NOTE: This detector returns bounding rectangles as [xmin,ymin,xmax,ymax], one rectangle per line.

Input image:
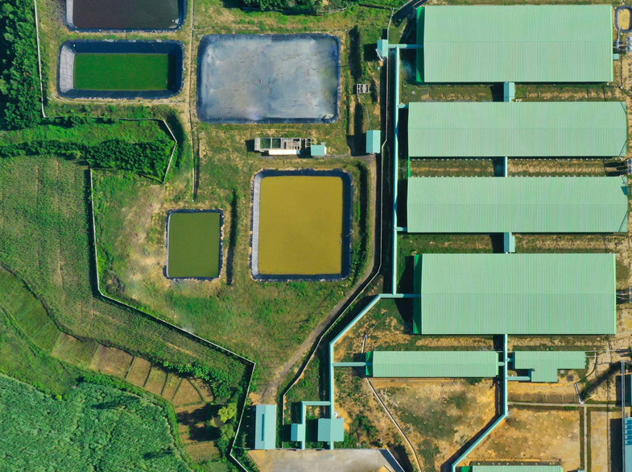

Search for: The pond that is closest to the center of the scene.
[249,168,354,284]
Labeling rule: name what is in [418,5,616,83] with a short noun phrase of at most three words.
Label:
barn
